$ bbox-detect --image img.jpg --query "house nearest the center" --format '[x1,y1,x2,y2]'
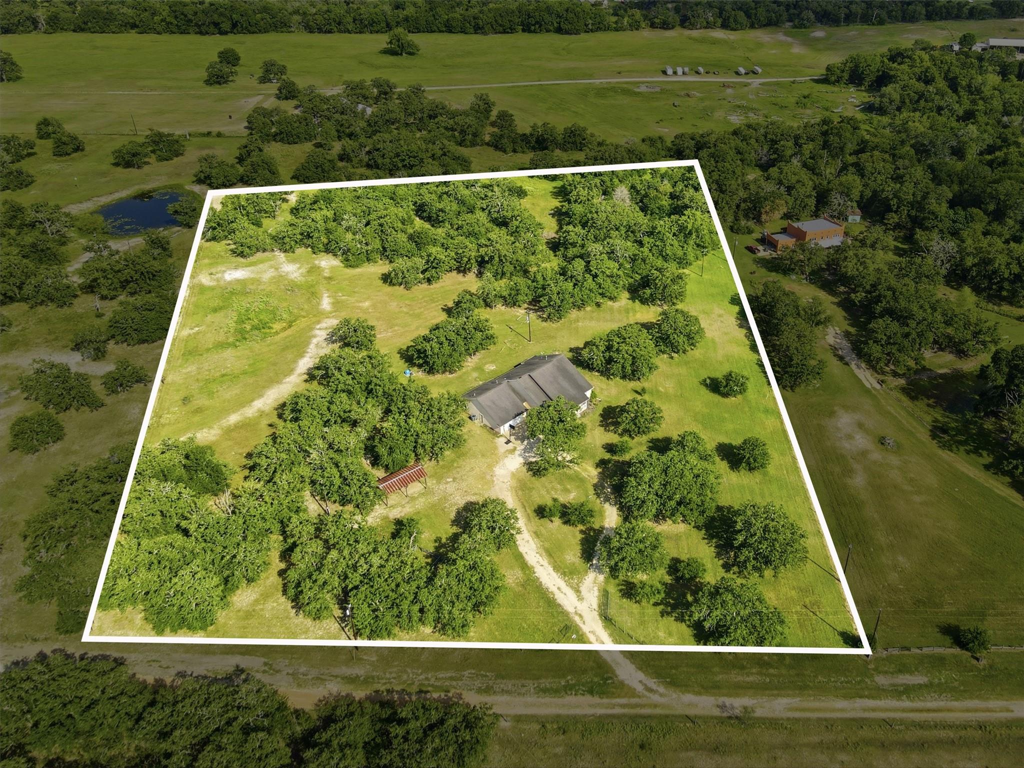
[453,358,597,437]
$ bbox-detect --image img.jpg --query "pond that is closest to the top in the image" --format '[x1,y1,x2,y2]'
[101,193,190,236]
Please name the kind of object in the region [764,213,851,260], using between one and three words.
building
